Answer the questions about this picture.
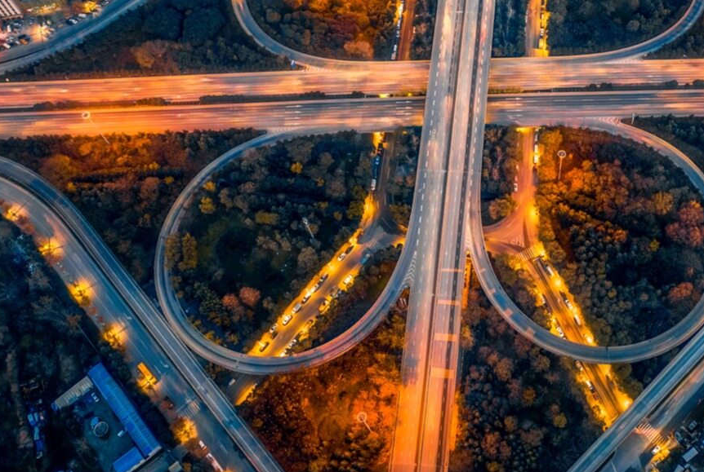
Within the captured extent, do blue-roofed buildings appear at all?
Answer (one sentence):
Yes, there's a blue-roofed building down there.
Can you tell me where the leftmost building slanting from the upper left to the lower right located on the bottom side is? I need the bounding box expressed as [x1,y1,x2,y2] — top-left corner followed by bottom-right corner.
[88,365,163,458]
